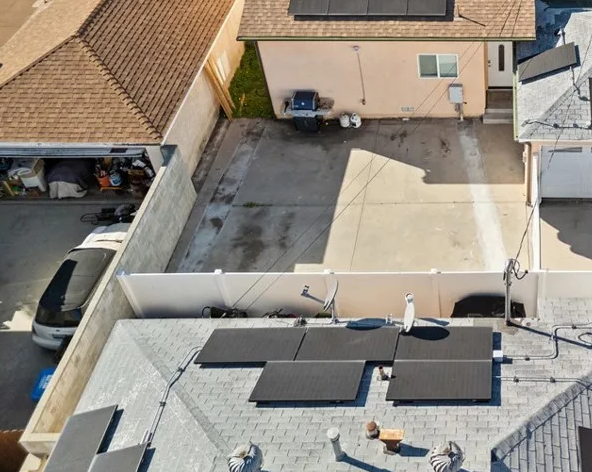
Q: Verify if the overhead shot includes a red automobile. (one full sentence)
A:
No, the photo shows no red automobile.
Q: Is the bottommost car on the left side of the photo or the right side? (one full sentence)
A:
It is on the left.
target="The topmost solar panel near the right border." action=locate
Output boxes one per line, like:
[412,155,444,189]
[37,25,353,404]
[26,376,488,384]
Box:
[519,41,578,82]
